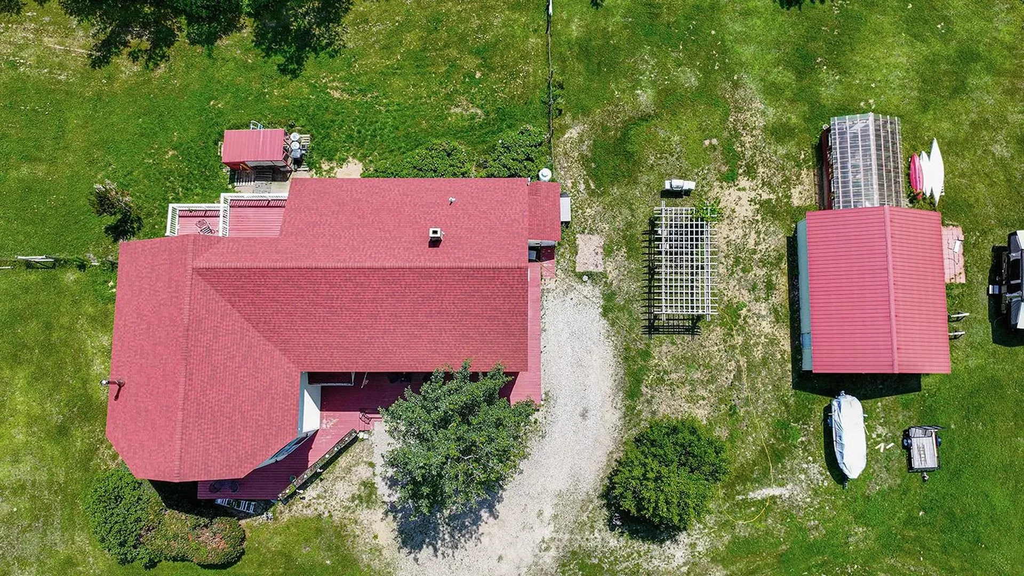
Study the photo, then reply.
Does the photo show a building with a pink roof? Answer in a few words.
Yes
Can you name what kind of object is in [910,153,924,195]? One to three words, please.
boat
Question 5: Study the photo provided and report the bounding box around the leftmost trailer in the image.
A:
[900,430,944,491]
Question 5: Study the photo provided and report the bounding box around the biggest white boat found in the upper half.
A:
[927,138,945,205]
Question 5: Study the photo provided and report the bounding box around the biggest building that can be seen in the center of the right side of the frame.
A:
[797,205,952,374]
